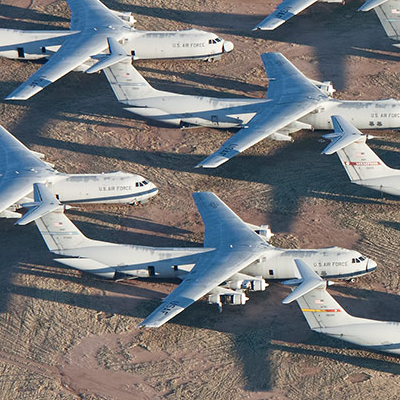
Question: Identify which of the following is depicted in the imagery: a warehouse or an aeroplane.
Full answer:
Of the two, only an aeroplane appears.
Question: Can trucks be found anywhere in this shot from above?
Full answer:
No, no truck is visible in the scene.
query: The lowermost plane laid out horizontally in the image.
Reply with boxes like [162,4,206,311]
[17,184,377,328]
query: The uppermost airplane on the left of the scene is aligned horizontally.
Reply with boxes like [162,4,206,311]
[0,0,233,102]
